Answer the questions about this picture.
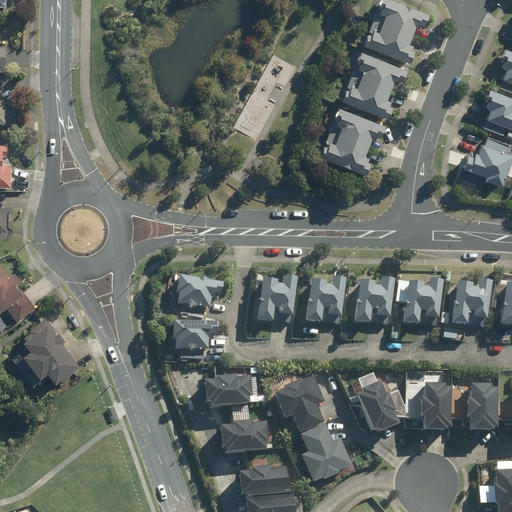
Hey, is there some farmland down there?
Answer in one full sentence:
No, the scene doesn't show any farmland.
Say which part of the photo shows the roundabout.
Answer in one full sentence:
The roundabout is in the left part of the image.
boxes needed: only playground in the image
[234,54,298,142]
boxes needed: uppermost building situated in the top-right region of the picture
[365,0,431,64]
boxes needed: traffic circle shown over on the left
[56,204,109,256]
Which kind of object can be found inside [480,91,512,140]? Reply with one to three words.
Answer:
house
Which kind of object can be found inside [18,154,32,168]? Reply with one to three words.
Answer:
vehicle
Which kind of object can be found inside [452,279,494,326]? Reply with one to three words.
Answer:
house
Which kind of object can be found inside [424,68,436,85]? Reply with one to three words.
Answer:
vehicle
